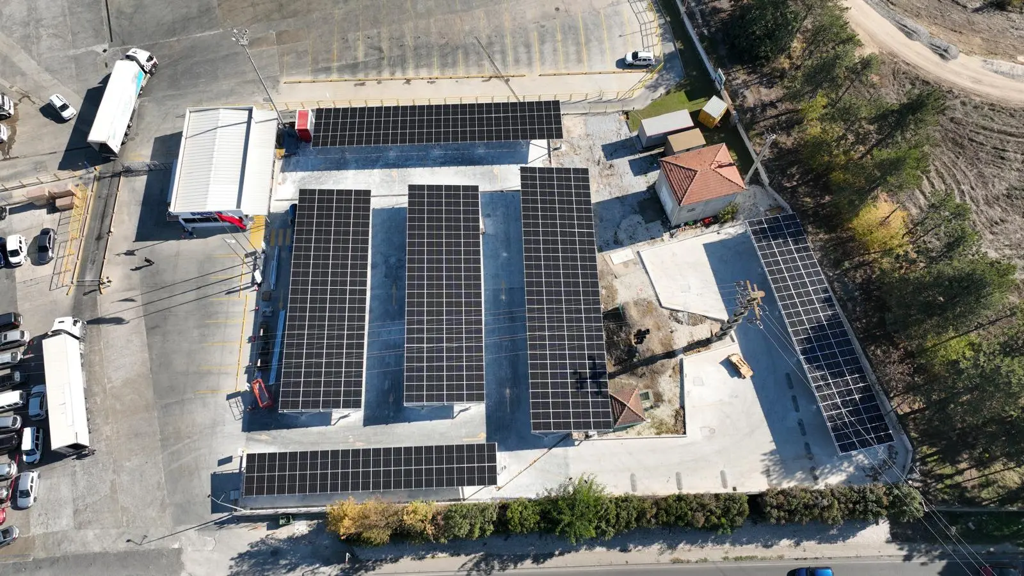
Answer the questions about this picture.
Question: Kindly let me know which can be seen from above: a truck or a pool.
truck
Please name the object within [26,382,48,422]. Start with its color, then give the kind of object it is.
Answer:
blue car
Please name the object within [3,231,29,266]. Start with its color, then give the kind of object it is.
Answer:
white vehicle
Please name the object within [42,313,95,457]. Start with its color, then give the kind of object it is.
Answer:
white truck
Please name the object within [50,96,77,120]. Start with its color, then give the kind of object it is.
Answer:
white car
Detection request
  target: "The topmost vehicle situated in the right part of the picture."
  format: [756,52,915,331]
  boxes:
[624,50,656,67]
